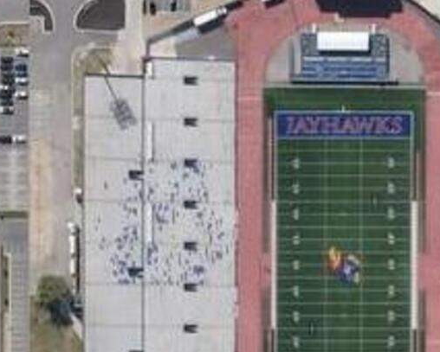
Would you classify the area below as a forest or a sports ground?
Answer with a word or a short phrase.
sports ground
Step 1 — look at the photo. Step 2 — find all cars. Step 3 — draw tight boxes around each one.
[15,71,27,76]
[150,1,156,14]
[0,137,11,142]
[13,136,26,141]
[1,99,13,104]
[1,85,13,90]
[1,78,13,83]
[15,92,27,97]
[15,50,27,55]
[15,78,27,83]
[1,64,13,70]
[171,0,176,11]
[1,92,13,97]
[1,57,13,62]
[1,108,13,113]
[142,0,147,12]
